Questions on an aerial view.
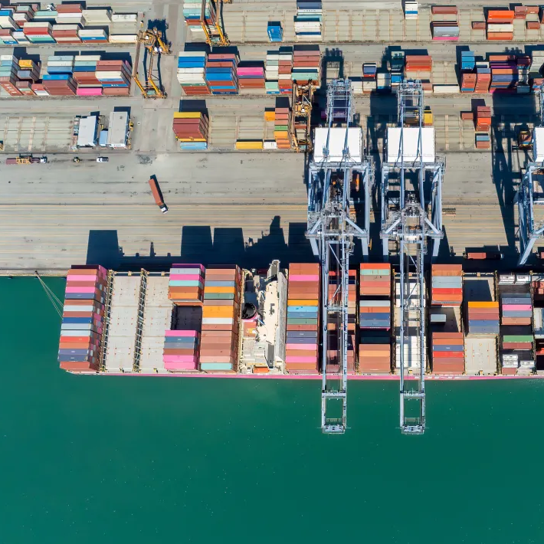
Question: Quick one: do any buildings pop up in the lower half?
No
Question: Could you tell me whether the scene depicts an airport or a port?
port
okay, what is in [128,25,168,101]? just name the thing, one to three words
container crane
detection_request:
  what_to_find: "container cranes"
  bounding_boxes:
[285,79,316,156]
[201,0,235,47]
[506,74,544,270]
[308,75,377,434]
[128,25,168,101]
[377,75,446,435]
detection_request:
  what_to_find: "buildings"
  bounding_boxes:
[105,107,132,145]
[75,111,102,147]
